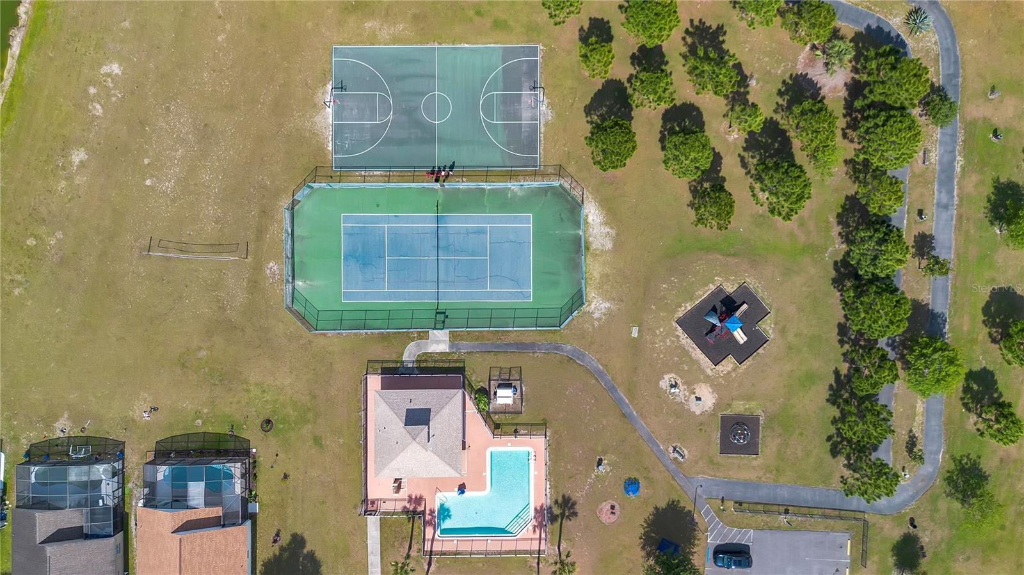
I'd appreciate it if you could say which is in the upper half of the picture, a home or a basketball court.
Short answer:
basketball court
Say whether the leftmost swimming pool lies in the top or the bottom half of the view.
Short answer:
bottom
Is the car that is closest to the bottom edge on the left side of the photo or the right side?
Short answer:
right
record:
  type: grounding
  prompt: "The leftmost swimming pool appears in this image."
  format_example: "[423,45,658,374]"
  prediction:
[36,464,111,491]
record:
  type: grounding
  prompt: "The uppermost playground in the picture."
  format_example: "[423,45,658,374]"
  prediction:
[676,282,771,366]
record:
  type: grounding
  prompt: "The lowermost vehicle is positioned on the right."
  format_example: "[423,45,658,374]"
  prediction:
[711,548,750,569]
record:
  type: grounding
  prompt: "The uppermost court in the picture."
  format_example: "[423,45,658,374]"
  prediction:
[332,45,540,170]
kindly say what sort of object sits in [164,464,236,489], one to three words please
swimming pool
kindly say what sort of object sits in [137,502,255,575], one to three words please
house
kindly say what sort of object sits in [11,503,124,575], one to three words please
house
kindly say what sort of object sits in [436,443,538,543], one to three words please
swimming pool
